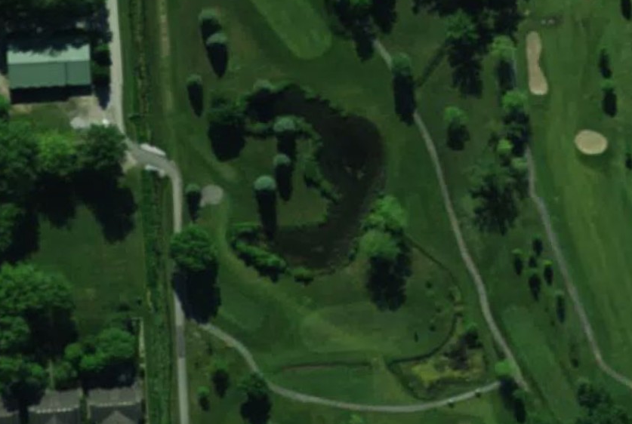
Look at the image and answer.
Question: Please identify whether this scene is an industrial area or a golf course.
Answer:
golf course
